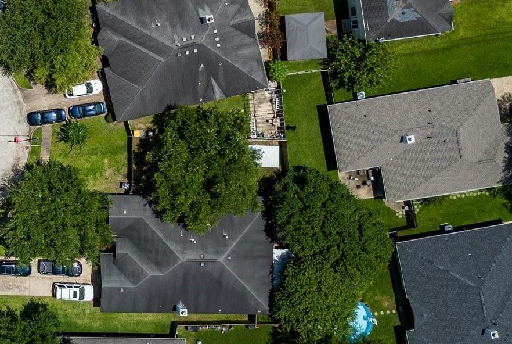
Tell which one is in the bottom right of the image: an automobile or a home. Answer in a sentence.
There is a home in the bottom right of the image.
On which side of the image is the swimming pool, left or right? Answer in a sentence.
It is on the right.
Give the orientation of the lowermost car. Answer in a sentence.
The lowermost car is oriented from left to right.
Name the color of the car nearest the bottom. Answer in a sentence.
The car nearest the bottom looks white in the image.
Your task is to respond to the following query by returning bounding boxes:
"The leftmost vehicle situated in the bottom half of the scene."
[0,258,33,278]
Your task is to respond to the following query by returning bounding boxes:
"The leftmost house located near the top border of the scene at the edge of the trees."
[95,0,269,122]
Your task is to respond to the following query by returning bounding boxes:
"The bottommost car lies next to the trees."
[52,282,94,303]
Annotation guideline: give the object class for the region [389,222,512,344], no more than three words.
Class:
house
